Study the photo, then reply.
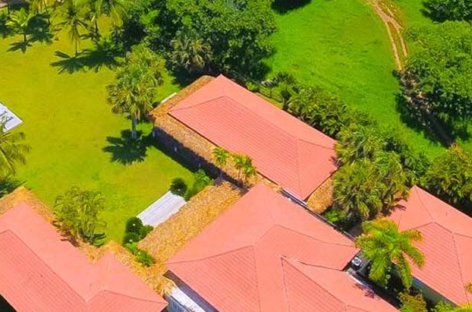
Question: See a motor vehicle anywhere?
No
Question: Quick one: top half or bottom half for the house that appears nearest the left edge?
bottom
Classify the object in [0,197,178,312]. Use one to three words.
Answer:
house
